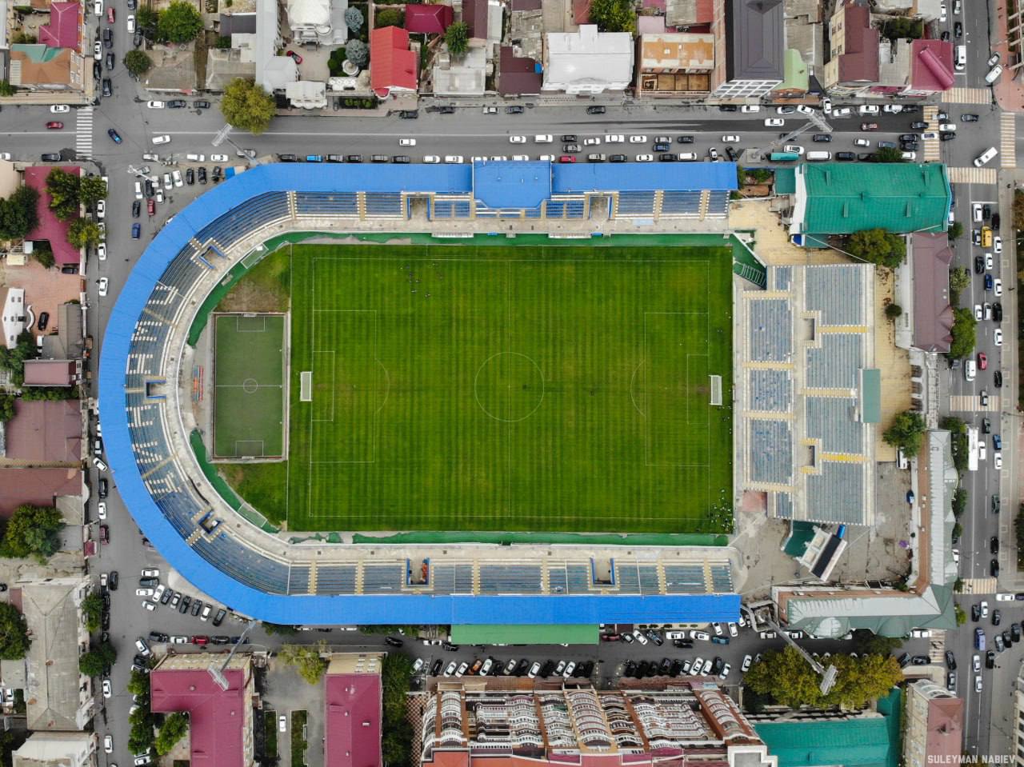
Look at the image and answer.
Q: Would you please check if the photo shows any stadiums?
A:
Yes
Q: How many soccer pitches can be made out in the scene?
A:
two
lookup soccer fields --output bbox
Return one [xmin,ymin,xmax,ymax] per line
[287,245,733,535]
[208,310,289,463]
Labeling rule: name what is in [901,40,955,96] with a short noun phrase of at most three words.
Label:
building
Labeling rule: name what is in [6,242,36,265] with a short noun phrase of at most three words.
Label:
shed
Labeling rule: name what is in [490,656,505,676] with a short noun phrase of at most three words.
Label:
car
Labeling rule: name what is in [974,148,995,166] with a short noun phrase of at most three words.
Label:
vehicle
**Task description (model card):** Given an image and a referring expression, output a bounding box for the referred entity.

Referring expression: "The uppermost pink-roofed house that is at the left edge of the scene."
[37,2,83,59]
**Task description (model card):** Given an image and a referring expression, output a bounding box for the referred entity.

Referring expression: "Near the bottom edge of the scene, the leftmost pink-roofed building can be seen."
[150,654,253,767]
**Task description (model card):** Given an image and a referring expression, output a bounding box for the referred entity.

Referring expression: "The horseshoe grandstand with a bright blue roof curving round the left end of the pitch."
[98,161,741,624]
